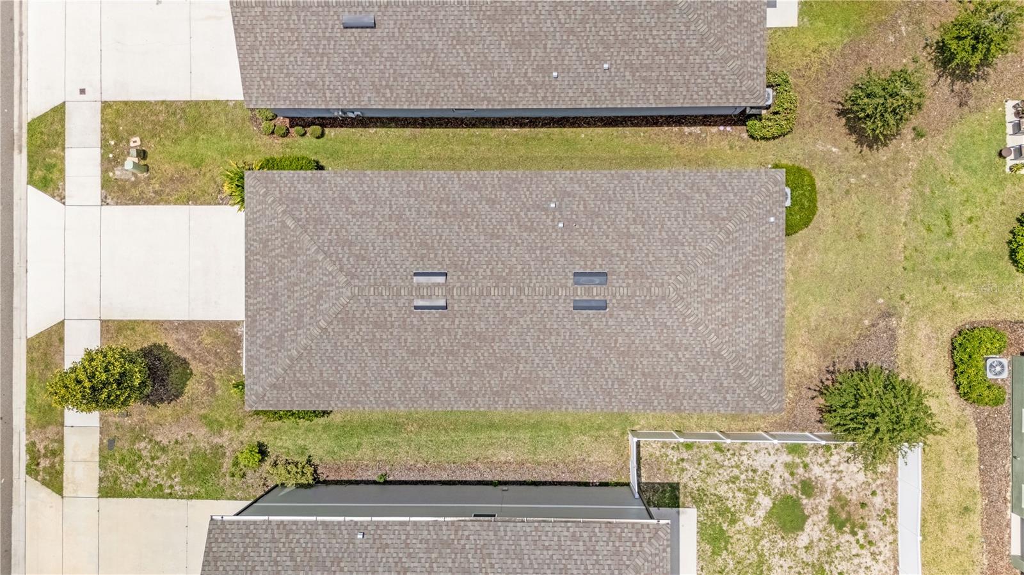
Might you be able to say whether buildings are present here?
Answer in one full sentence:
Yes, the frame does contain a building.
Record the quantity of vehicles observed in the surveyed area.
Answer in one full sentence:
There are no vehicles in the image.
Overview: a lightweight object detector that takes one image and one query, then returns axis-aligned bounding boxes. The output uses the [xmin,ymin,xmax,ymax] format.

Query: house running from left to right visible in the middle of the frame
[245,169,785,412]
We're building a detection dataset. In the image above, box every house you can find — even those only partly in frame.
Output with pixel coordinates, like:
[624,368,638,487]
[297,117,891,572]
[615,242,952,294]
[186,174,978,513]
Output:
[230,0,767,123]
[245,169,785,412]
[202,485,670,575]
[1012,356,1024,575]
